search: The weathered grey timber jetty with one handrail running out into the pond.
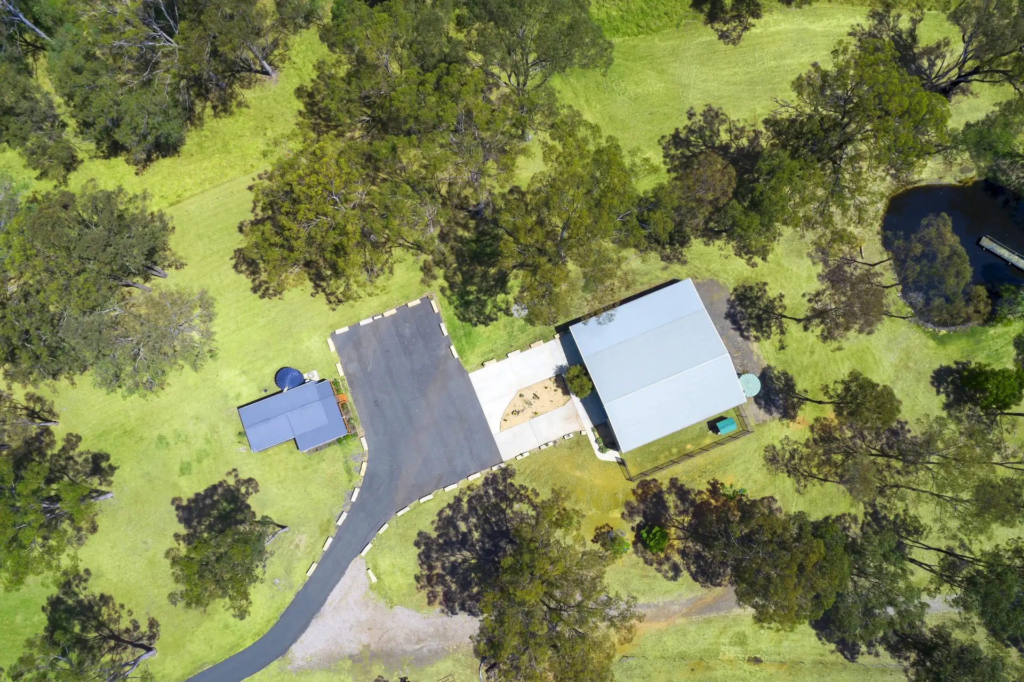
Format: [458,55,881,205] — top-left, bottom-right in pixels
[976,235,1024,268]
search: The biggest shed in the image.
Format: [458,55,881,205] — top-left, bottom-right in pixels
[568,277,748,454]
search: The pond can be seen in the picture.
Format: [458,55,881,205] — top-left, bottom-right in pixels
[883,177,1024,325]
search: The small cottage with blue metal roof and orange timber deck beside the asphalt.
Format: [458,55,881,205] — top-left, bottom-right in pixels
[238,380,352,453]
